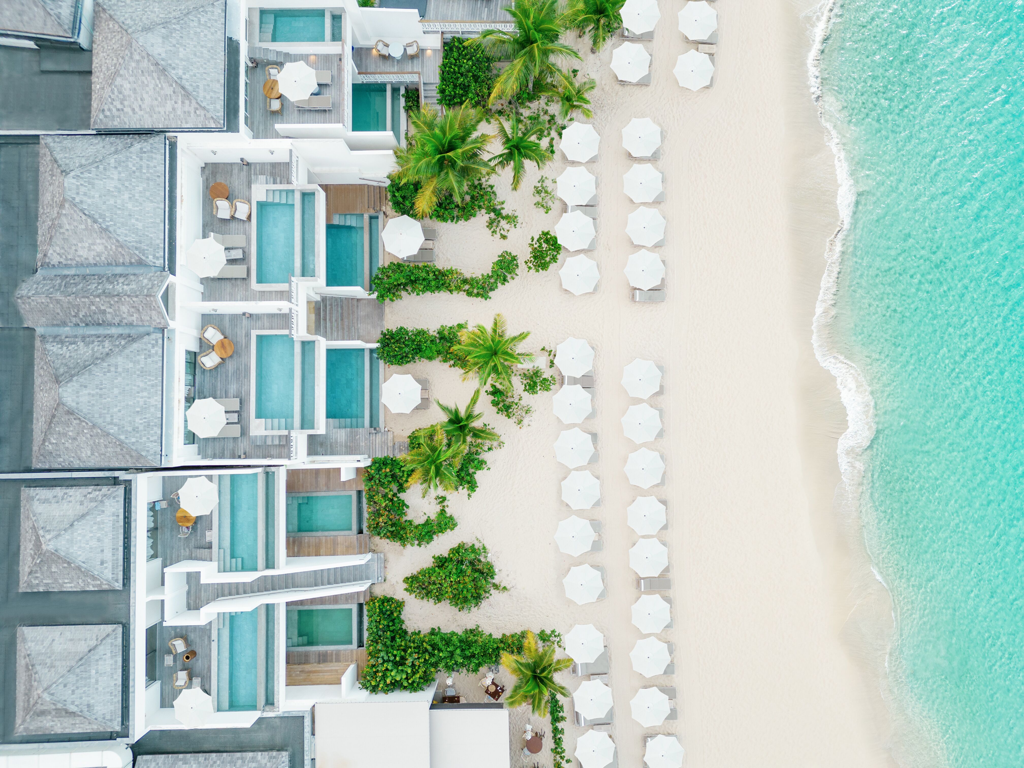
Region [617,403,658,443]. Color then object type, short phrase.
white umbrella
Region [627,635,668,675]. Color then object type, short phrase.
white umbrella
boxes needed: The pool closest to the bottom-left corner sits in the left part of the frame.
[212,591,290,713]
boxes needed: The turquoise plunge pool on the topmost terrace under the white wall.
[251,7,350,54]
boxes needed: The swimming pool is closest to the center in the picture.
[327,346,386,432]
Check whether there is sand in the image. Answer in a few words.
Yes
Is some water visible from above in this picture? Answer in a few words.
Yes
